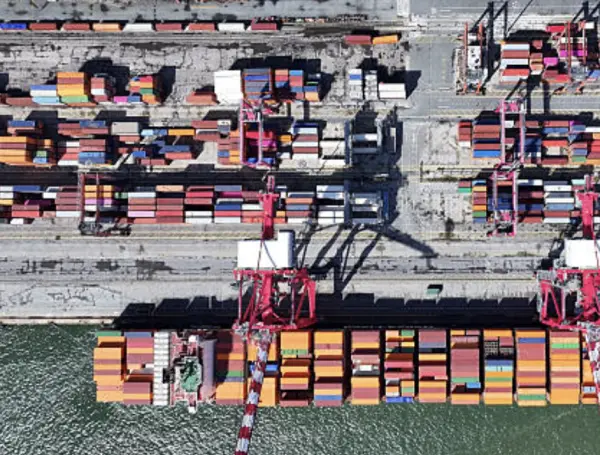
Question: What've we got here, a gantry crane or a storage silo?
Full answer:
It is a gantry crane that can be seen here.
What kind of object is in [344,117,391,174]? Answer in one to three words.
crane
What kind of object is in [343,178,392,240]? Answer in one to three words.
crane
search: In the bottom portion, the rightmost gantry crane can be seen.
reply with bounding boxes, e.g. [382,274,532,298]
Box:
[534,173,600,437]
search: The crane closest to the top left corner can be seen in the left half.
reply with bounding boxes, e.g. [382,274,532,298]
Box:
[77,172,129,238]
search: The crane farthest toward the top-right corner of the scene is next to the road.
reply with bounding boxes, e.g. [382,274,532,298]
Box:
[556,18,588,87]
